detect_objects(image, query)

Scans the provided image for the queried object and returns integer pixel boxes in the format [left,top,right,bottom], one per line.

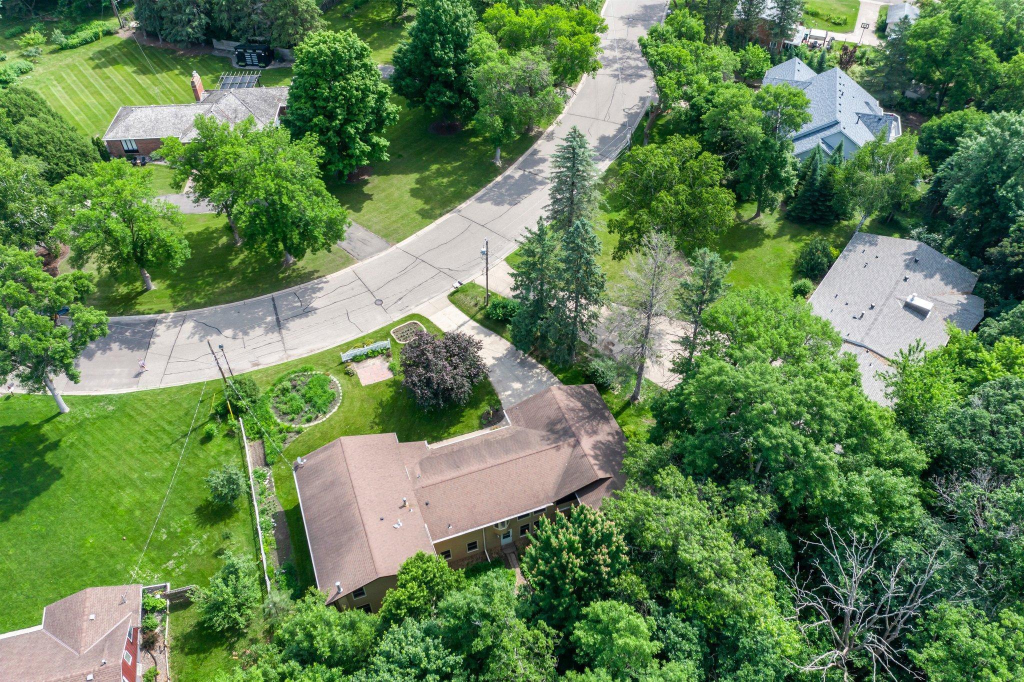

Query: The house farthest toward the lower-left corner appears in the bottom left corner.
[0,581,151,682]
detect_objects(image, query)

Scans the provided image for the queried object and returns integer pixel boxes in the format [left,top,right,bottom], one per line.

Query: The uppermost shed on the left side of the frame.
[231,42,272,66]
